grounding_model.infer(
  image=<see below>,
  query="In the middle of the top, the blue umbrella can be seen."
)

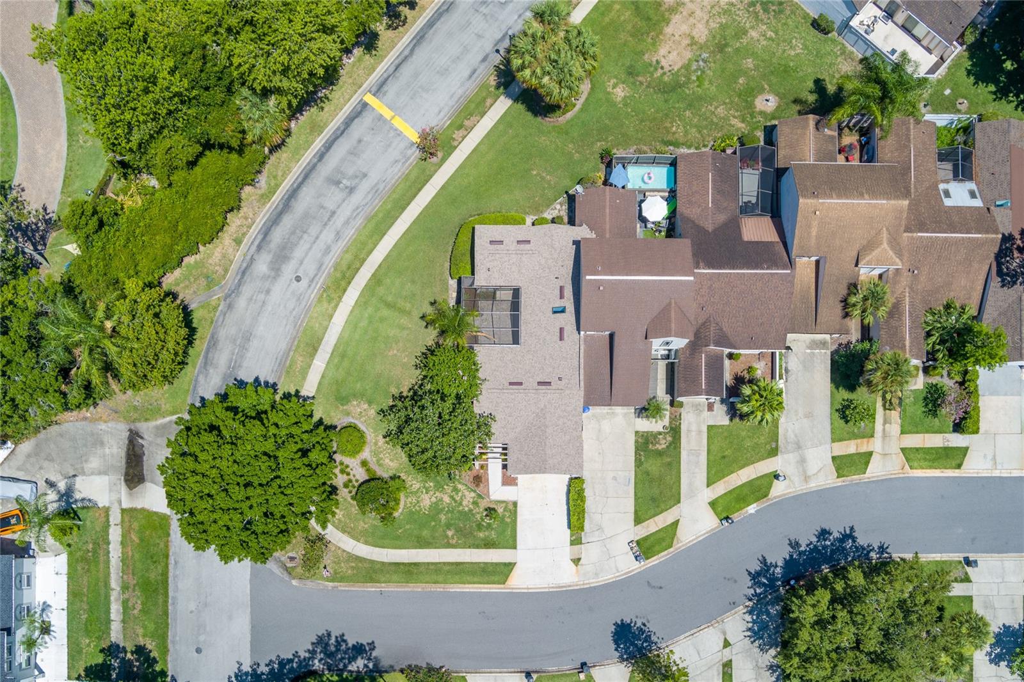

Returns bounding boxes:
[608,165,630,187]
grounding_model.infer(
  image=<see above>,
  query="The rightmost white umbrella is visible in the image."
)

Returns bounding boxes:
[641,197,666,222]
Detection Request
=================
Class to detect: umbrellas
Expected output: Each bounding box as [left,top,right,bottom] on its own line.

[641,197,666,222]
[608,165,630,187]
